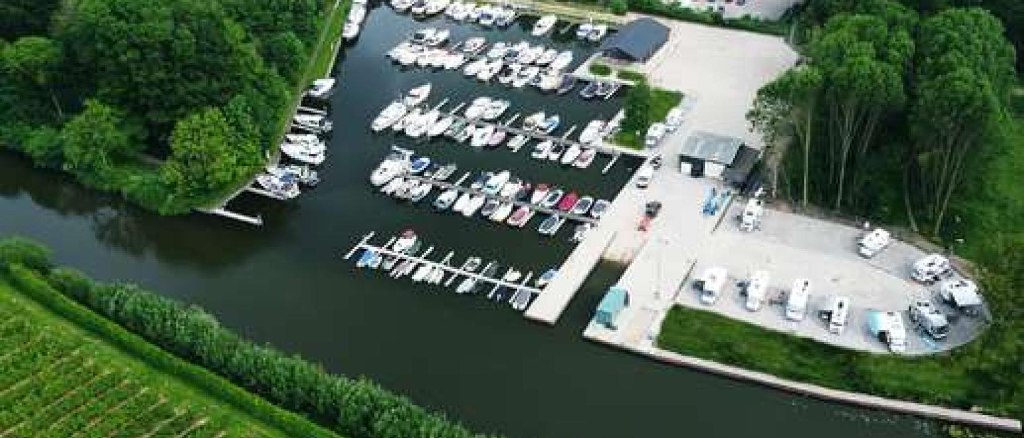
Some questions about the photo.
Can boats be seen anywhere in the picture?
Yes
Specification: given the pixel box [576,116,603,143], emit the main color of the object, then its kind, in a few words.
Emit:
white boat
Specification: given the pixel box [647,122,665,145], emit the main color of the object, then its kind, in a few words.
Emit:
white vehicle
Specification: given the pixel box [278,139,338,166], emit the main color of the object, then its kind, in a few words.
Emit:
white boat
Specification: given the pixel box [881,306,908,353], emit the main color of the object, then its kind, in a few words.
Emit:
white camper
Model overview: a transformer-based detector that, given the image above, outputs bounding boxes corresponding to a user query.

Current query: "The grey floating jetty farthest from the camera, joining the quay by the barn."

[408,41,567,74]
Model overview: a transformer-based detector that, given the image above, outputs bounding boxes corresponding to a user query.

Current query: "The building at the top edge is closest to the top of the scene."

[597,19,673,65]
